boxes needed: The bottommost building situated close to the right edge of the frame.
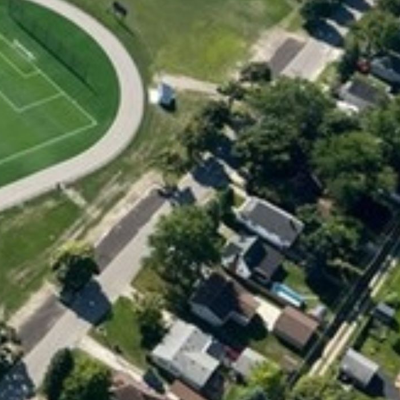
[336,349,381,389]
